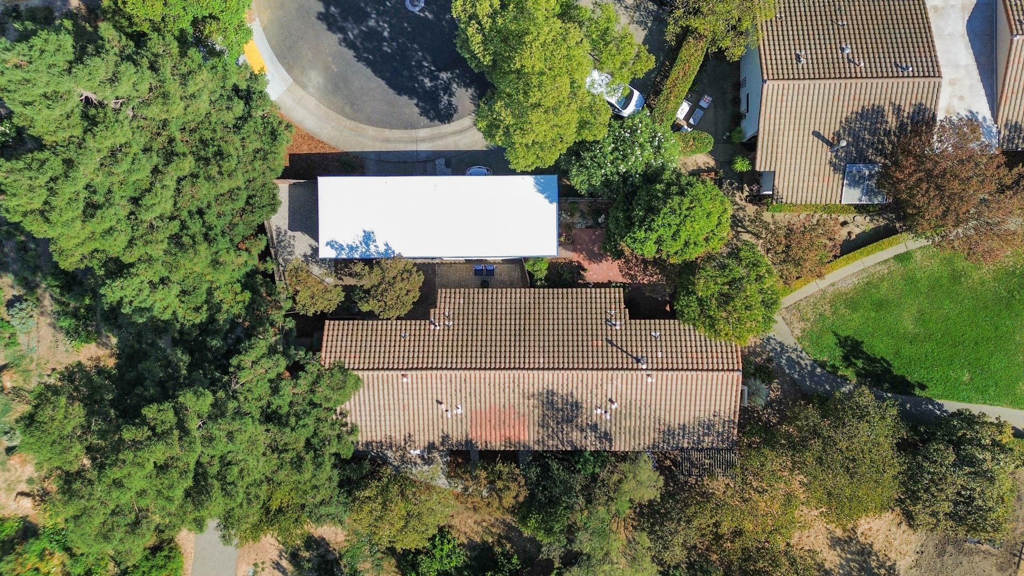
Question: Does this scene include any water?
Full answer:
No, there is no water in the image.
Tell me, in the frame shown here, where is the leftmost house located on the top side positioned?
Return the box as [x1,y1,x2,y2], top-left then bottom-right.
[317,174,559,262]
